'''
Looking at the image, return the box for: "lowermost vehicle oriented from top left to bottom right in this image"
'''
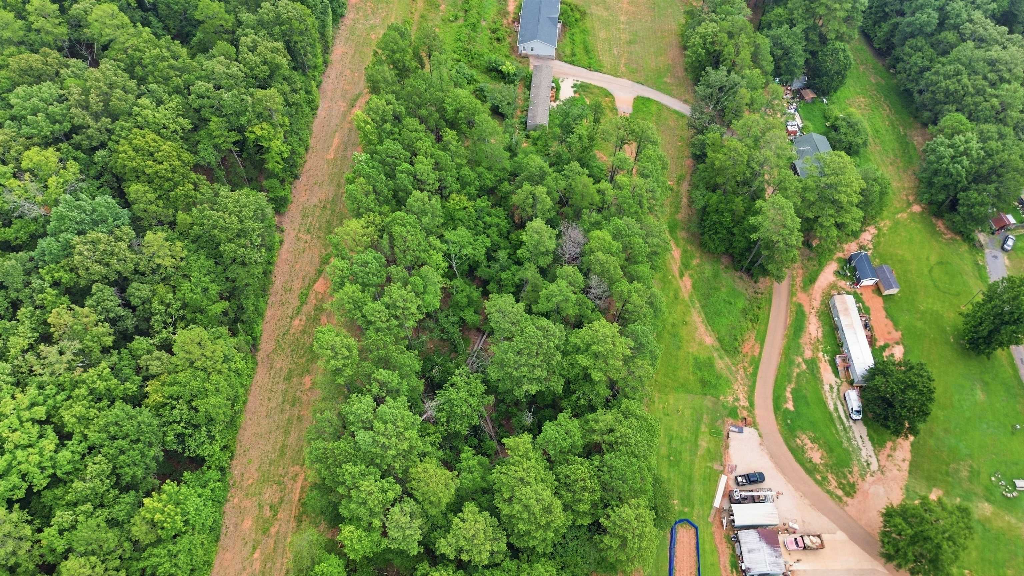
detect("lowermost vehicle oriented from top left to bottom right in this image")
[840,388,866,421]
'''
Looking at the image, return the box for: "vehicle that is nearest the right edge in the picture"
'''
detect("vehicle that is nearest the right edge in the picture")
[1002,234,1015,254]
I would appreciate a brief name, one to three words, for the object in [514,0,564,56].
house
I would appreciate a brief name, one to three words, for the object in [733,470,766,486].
vehicle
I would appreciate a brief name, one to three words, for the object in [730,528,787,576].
building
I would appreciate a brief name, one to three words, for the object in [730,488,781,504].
vehicle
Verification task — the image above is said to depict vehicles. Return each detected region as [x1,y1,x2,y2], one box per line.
[733,470,766,486]
[840,388,866,421]
[782,534,827,551]
[1002,234,1015,254]
[730,488,781,504]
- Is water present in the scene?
No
